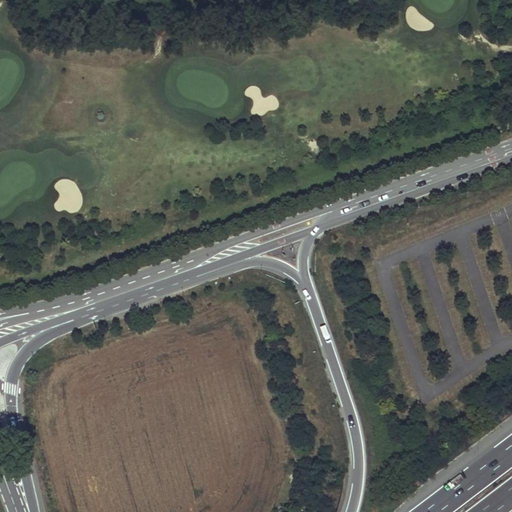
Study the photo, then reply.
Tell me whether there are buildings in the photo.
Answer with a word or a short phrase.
No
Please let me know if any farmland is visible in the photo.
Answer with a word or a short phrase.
Yes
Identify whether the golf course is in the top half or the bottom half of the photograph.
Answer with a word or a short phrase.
top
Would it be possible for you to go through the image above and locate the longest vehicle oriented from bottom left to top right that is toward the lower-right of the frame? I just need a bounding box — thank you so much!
[444,472,466,490]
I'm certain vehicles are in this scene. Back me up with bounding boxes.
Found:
[444,472,466,490]
[303,290,310,300]
[456,173,468,180]
[340,207,351,213]
[360,200,370,206]
[454,488,464,496]
[310,226,320,236]
[320,324,330,342]
[416,180,427,186]
[378,194,388,200]
[488,458,498,468]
